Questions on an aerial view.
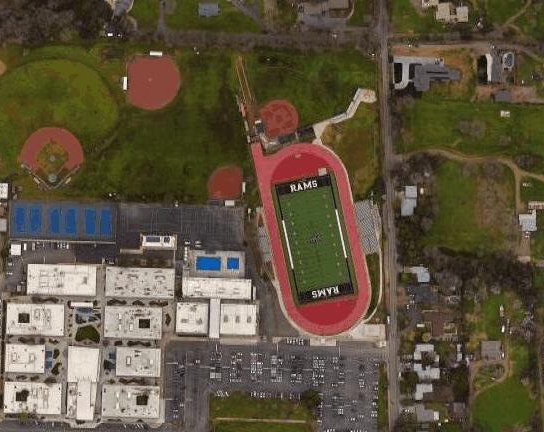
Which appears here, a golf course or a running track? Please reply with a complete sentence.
Visible in the photo is a running track.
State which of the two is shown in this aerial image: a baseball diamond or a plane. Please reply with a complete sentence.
This aerial view contains a baseball diamond.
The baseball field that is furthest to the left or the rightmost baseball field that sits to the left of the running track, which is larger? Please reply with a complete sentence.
The larger object is the baseball field that is furthest to the left, with the rightmost baseball field that sits to the left of the running track being the smaller of the pair.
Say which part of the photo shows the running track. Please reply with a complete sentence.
The running track appears toward the center of the photo.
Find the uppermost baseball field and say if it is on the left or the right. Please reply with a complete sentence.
The uppermost baseball field sits on the left side.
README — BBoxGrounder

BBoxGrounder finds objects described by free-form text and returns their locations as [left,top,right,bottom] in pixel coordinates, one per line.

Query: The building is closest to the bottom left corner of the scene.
[3,383,62,414]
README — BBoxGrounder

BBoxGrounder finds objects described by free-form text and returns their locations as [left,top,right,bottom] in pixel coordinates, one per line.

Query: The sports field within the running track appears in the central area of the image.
[272,173,358,306]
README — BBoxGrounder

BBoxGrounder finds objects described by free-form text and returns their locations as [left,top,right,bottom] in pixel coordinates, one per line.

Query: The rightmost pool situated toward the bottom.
[227,258,239,271]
